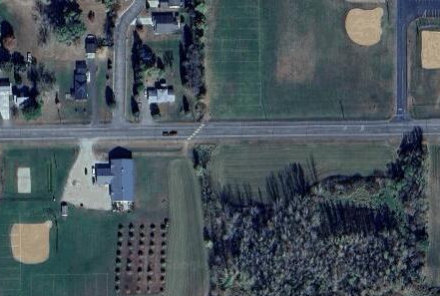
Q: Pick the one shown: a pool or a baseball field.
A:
baseball field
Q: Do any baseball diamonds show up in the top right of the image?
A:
Yes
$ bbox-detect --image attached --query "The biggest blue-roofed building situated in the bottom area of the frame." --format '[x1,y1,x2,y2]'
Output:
[94,158,134,201]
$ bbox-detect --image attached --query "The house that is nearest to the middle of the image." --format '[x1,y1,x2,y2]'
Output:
[148,85,175,105]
